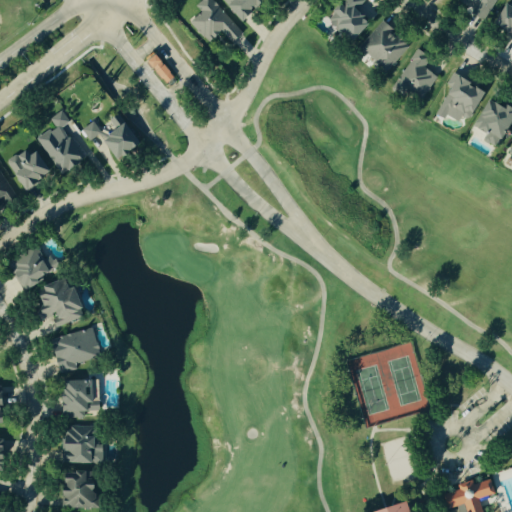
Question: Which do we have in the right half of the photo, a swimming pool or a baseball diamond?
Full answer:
There is a swimming pool in the right half of the photo.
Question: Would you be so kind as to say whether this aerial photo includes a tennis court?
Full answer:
Yes, a tennis court appears in the view.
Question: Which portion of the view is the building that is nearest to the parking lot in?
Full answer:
The building that is nearest to the parking lot sits in the bottom right section of the image.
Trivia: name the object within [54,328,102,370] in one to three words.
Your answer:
house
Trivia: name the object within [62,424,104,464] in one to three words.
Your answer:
house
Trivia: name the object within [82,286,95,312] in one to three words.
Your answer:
swimming pool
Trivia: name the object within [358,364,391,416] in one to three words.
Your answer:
tennis court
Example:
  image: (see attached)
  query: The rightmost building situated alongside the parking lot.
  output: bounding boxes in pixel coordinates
[446,476,500,512]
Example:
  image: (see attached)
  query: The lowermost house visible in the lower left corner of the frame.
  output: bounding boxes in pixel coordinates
[57,468,98,512]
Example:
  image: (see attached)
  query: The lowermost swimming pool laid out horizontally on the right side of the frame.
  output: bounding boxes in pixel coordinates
[434,115,465,129]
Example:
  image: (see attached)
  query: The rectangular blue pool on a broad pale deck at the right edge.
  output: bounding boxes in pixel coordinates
[468,132,495,157]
